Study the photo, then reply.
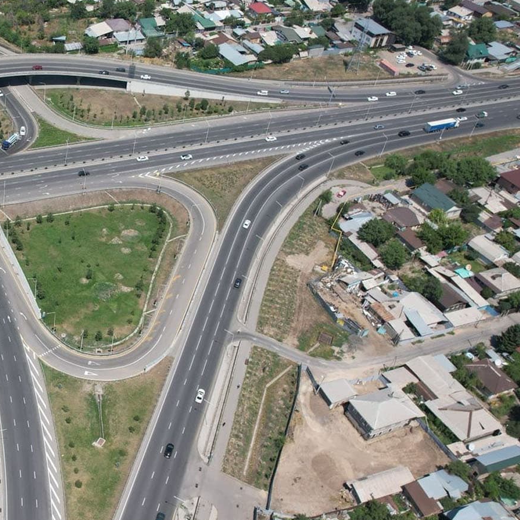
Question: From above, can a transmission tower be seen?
Yes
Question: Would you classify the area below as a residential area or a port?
residential area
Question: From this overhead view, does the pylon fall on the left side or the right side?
right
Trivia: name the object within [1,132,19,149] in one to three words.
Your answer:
vehicle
